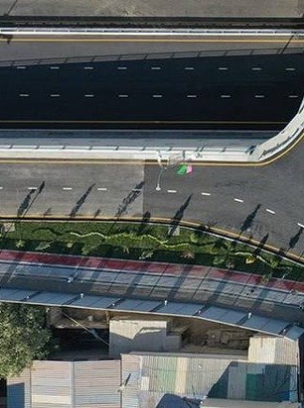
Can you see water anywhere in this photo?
No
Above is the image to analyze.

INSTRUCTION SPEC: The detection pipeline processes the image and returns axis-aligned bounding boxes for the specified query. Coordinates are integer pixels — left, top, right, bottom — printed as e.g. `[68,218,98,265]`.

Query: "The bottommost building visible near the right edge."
[229,353,304,405]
